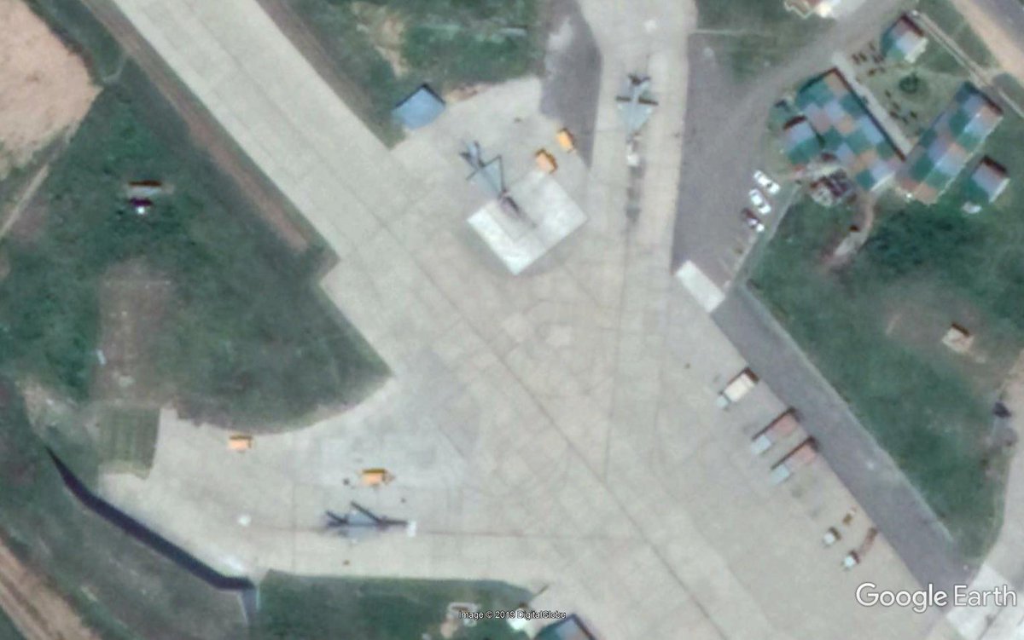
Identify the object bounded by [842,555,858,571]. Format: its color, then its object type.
white work vehicle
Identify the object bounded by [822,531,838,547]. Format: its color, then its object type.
white work vehicle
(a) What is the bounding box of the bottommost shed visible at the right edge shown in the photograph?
[943,326,973,354]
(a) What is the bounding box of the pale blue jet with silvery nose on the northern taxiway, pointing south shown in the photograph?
[614,81,654,165]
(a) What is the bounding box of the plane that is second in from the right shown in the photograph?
[464,148,524,220]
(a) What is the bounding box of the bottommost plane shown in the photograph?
[329,508,414,549]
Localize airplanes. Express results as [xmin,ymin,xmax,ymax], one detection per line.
[329,508,414,549]
[614,81,654,165]
[464,148,524,220]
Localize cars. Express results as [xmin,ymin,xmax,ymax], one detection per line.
[741,208,764,231]
[749,188,770,214]
[754,169,779,193]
